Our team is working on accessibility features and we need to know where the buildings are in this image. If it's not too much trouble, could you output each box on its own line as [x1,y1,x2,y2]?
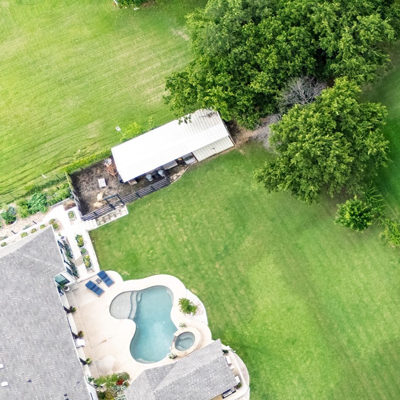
[112,110,231,193]
[125,339,240,400]
[0,224,97,400]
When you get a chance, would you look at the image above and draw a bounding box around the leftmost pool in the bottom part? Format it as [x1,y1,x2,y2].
[106,282,180,367]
